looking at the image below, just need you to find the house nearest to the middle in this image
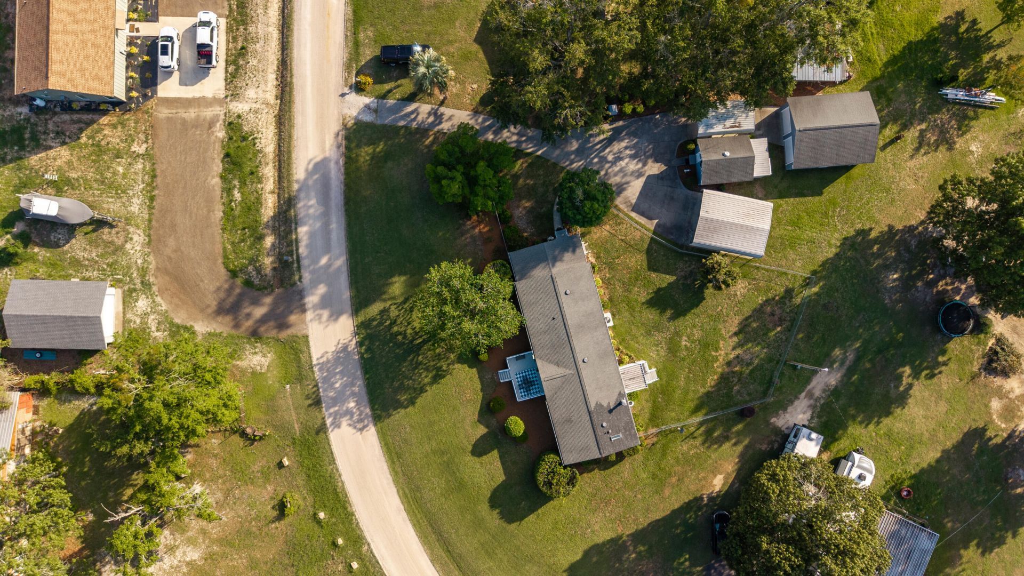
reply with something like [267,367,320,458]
[507,229,640,465]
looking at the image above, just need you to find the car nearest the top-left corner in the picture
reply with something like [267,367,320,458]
[158,27,183,73]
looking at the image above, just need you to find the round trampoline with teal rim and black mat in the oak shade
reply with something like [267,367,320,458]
[934,301,974,336]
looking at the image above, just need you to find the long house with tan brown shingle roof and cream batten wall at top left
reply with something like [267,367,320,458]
[15,0,135,102]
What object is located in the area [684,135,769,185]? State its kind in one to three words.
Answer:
shed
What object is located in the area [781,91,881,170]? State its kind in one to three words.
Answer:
building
